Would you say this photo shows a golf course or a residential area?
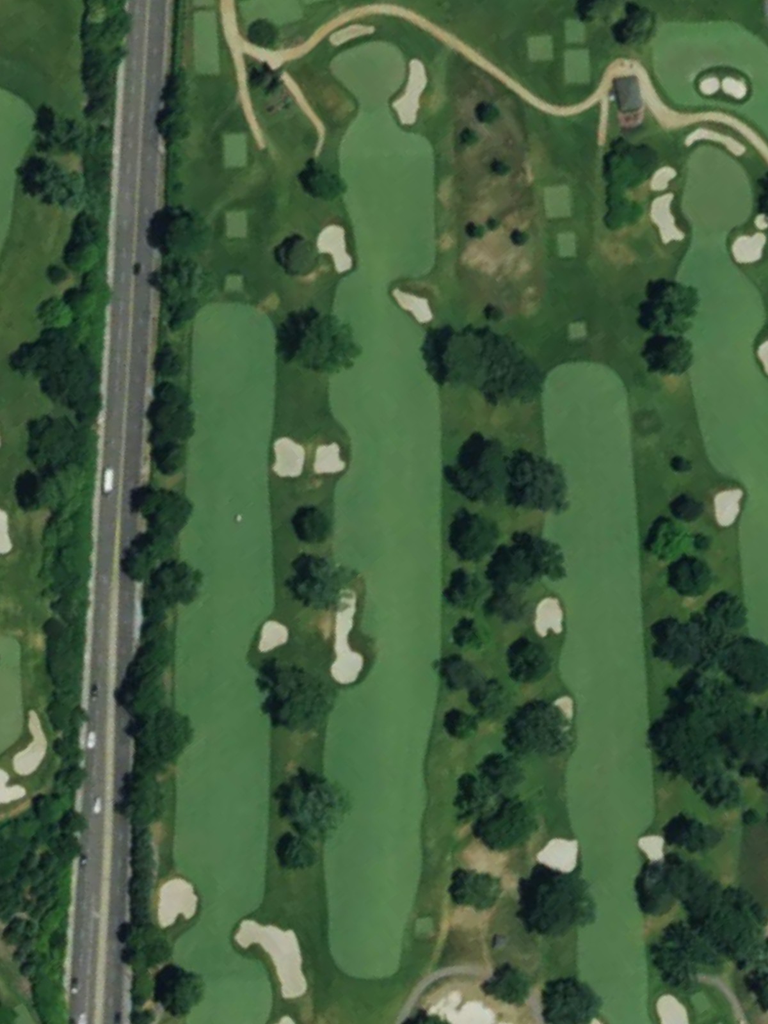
golf course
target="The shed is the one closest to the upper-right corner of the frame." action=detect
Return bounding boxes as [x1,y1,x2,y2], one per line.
[616,74,642,110]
